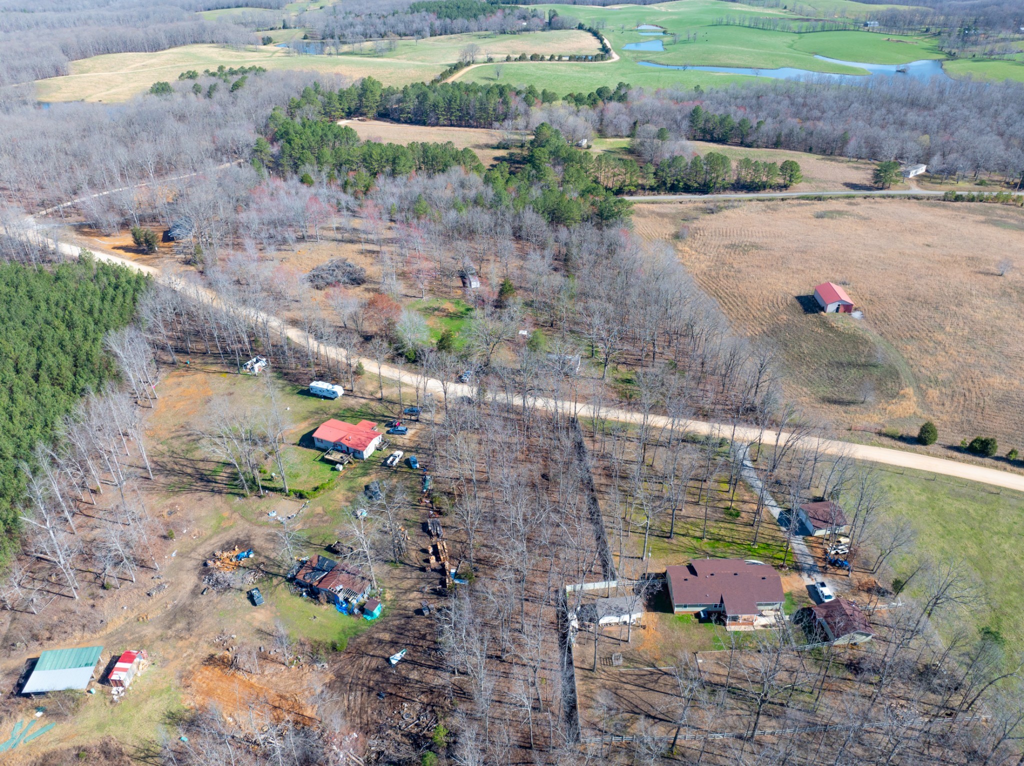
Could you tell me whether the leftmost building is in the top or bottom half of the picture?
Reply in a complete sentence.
It is in the bottom half that the leftmost building appears.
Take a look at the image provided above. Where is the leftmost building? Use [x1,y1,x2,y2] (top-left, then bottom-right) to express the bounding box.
[22,645,109,703]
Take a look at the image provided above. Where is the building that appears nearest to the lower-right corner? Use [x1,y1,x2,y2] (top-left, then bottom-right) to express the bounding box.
[802,595,876,647]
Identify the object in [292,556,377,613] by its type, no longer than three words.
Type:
house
